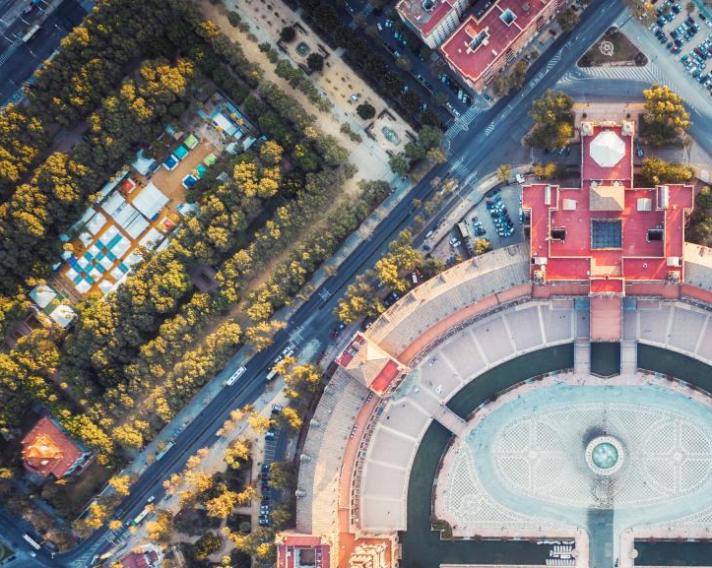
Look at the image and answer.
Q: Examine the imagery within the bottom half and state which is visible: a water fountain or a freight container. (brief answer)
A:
water fountain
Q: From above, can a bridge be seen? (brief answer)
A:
Yes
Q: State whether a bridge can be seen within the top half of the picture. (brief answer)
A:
No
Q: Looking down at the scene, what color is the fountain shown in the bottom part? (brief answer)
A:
white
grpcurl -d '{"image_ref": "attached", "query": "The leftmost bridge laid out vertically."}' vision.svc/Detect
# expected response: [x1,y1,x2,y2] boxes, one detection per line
[575,337,591,371]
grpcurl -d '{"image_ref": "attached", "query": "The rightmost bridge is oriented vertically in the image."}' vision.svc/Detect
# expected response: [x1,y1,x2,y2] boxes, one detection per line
[621,337,637,371]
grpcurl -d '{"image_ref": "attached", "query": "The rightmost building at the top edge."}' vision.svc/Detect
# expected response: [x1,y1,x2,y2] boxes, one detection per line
[440,0,568,92]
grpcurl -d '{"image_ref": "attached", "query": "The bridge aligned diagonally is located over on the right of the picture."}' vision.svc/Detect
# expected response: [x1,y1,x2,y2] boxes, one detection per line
[430,401,469,438]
